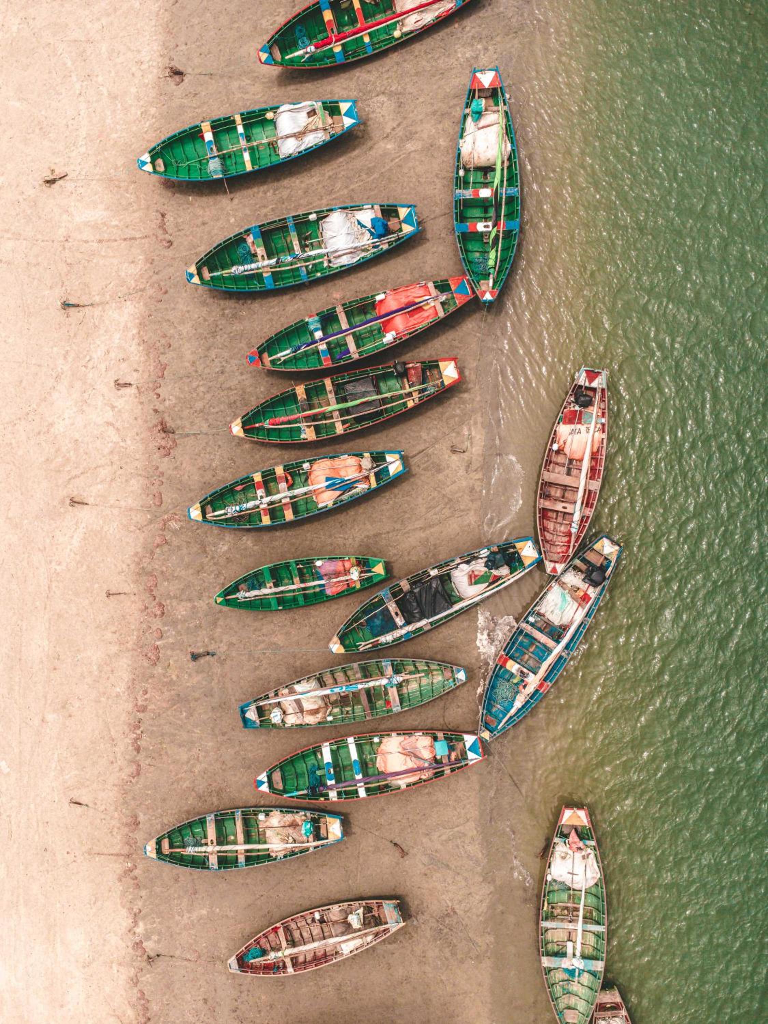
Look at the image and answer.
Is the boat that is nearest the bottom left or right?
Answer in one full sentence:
The boat that is nearest the bottom appears in the right half of the scene.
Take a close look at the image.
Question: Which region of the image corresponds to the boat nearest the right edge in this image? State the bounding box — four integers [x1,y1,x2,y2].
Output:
[590,984,631,1024]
